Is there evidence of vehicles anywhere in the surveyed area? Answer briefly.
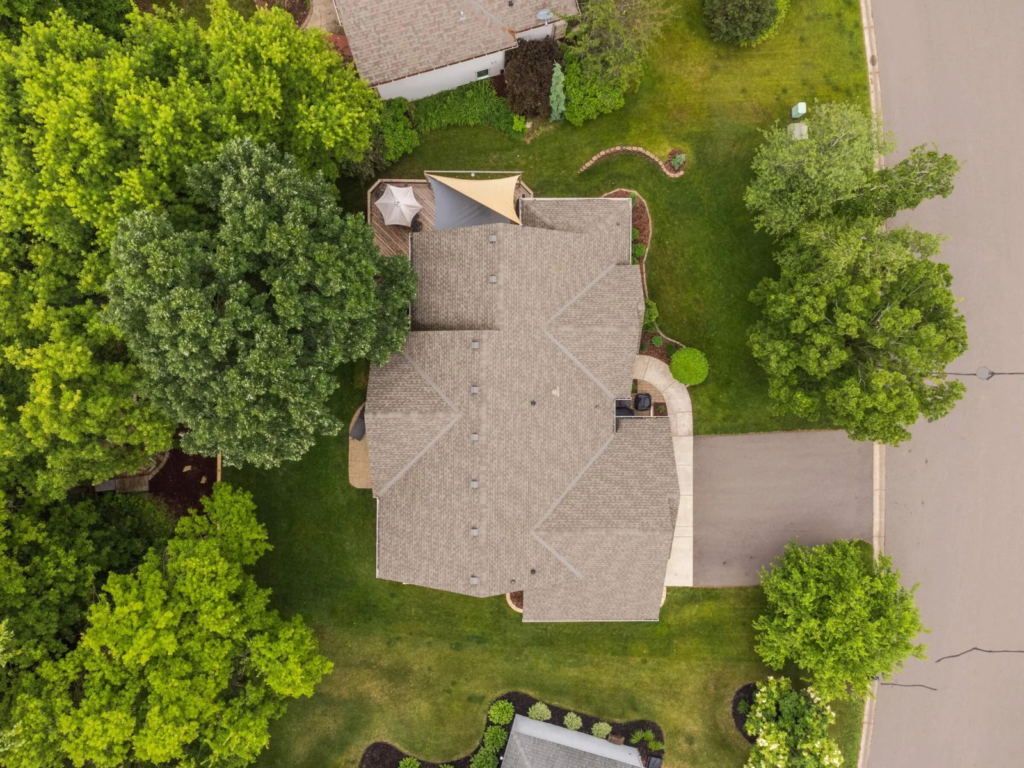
No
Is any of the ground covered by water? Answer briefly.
No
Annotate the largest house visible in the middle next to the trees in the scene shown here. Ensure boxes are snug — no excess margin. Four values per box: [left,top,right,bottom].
[364,196,679,622]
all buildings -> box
[364,196,679,622]
[331,0,581,104]
[500,715,644,768]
